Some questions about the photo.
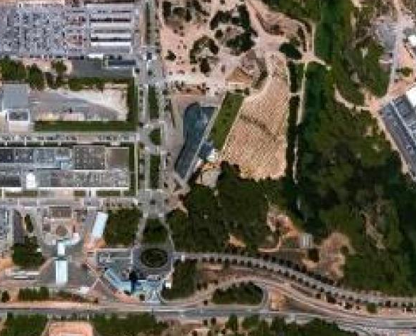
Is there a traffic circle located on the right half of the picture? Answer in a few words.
No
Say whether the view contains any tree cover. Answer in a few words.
Yes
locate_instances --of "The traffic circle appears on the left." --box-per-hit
[132,244,176,276]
